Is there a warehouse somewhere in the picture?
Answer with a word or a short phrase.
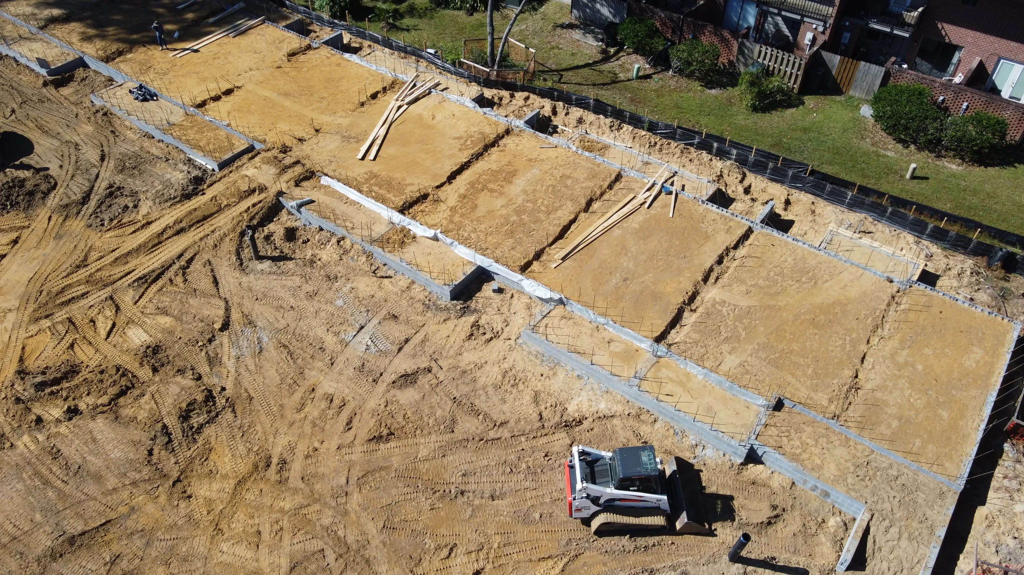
No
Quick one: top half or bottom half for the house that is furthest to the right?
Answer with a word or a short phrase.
top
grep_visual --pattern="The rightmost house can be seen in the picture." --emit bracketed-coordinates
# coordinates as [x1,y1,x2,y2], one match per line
[896,0,1024,95]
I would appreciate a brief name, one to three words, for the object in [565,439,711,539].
work vehicle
